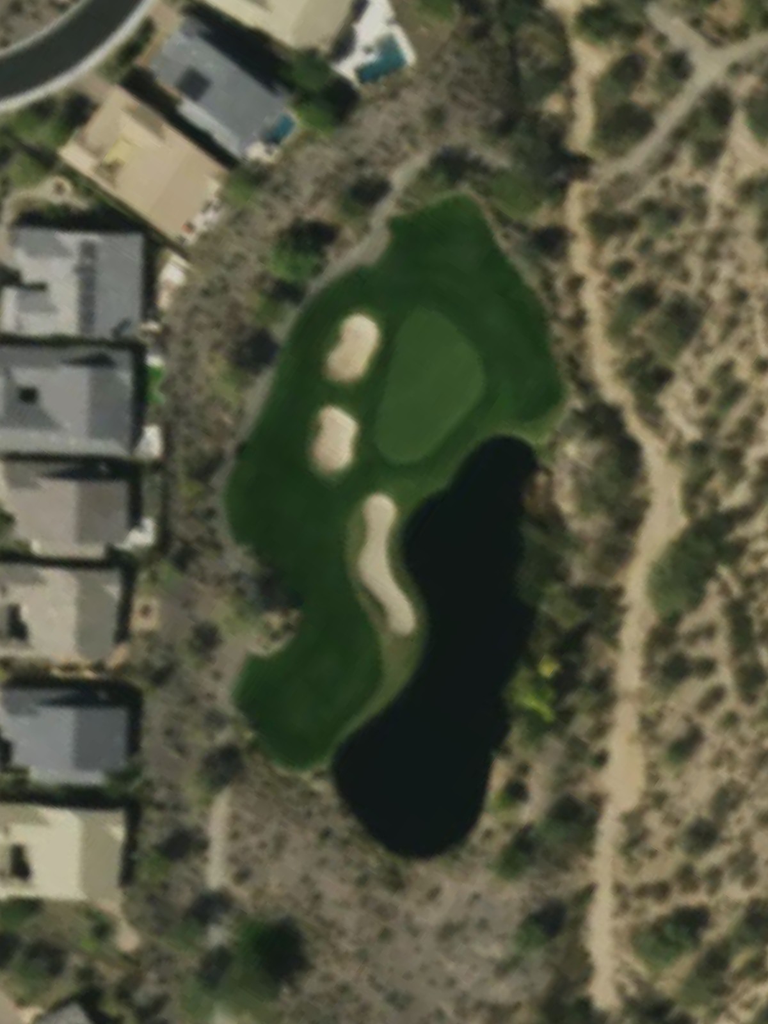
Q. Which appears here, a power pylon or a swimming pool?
swimming pool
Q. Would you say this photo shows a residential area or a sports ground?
residential area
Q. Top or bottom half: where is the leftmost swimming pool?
top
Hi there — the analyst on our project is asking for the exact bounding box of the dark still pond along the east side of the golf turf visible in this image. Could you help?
[330,433,542,860]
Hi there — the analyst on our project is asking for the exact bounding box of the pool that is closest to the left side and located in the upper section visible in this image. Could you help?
[262,113,297,146]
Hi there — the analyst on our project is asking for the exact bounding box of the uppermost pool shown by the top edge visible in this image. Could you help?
[355,34,409,83]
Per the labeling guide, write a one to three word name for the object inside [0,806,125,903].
house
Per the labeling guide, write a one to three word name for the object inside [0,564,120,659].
house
